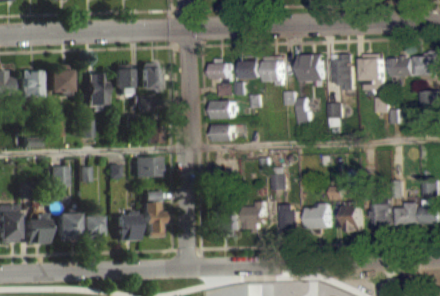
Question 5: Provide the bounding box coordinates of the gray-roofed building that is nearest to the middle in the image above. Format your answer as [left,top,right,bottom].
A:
[205,124,234,142]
